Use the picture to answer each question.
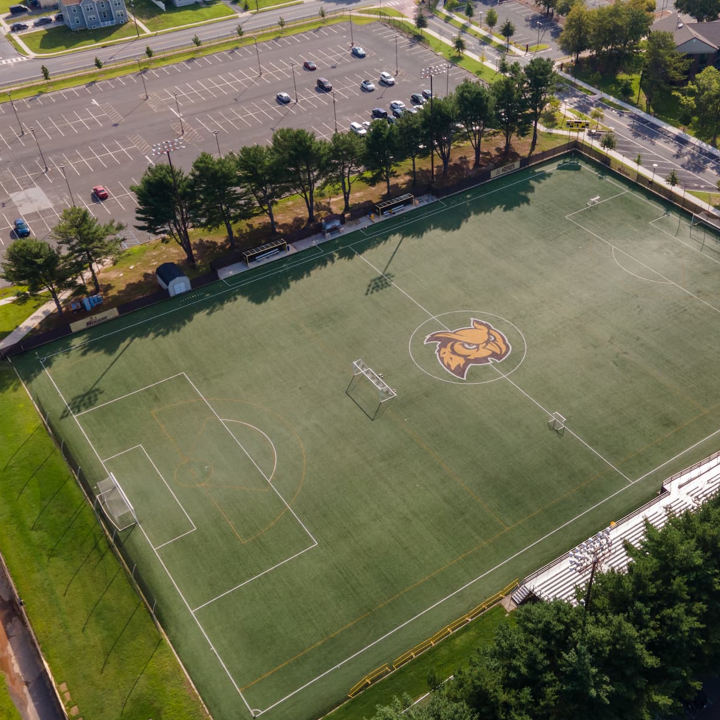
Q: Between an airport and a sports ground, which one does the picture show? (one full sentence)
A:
This looks like a sports ground.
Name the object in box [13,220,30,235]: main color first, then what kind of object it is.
blue car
